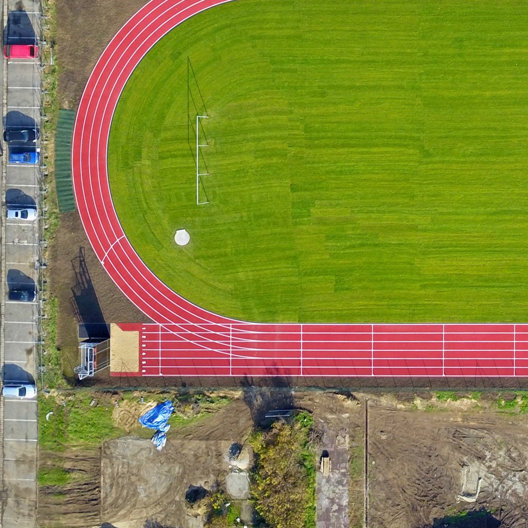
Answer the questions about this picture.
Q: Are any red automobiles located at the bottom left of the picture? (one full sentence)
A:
No, no red automobile is visible at the bottom left of the picture.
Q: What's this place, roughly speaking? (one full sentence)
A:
The area seen from above is a sports ground.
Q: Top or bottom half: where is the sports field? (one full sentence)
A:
It is in the top half that the sports field appears.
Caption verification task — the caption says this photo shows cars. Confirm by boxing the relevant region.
[8,288,37,303]
[7,208,37,222]
[3,43,39,60]
[9,150,40,166]
[2,127,40,144]
[1,382,36,401]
